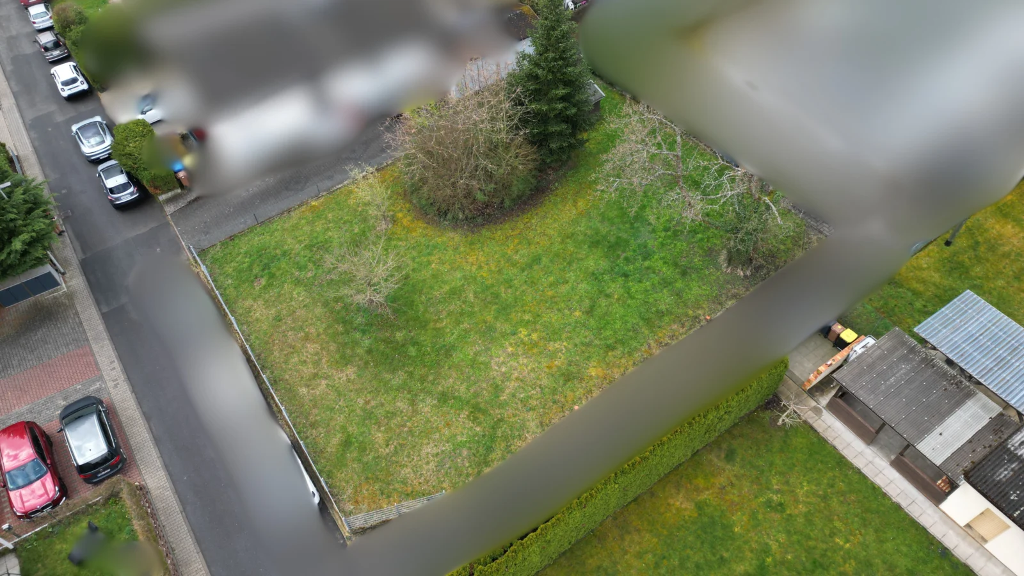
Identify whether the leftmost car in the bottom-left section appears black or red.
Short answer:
red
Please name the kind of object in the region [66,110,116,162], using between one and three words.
car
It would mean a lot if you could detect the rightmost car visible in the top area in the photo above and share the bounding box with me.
[140,84,198,127]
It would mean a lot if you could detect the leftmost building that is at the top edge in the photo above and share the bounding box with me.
[136,0,419,159]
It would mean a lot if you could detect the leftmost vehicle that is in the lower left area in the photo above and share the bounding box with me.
[4,415,67,519]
